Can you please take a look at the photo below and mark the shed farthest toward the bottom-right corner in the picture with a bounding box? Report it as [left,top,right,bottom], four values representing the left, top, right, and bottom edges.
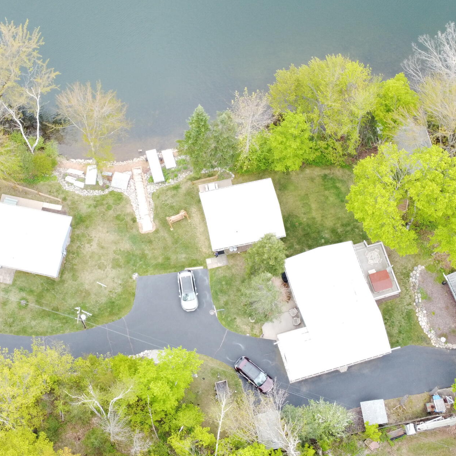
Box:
[357,400,388,427]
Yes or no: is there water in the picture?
Yes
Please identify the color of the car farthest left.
white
